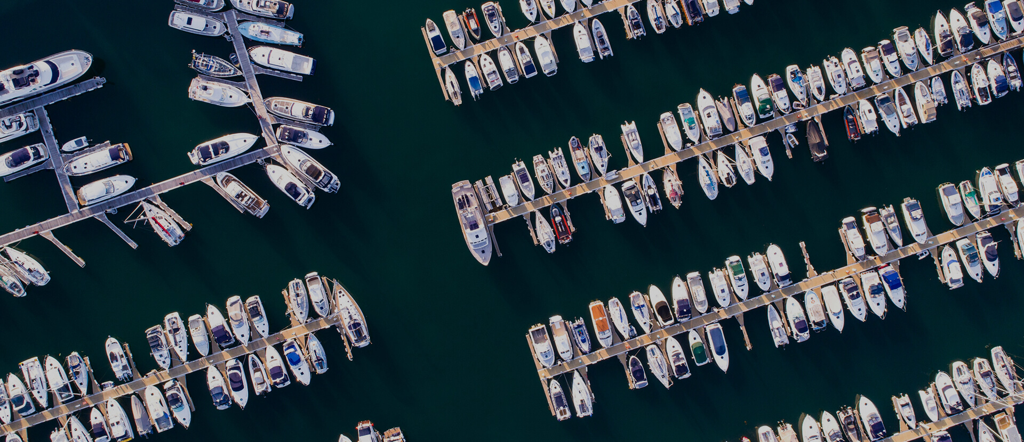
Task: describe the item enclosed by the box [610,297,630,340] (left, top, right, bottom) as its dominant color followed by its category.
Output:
white boat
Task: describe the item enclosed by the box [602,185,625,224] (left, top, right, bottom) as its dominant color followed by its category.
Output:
white boat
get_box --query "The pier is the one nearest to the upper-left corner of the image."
[0,77,105,120]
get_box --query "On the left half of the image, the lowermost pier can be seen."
[0,276,353,442]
